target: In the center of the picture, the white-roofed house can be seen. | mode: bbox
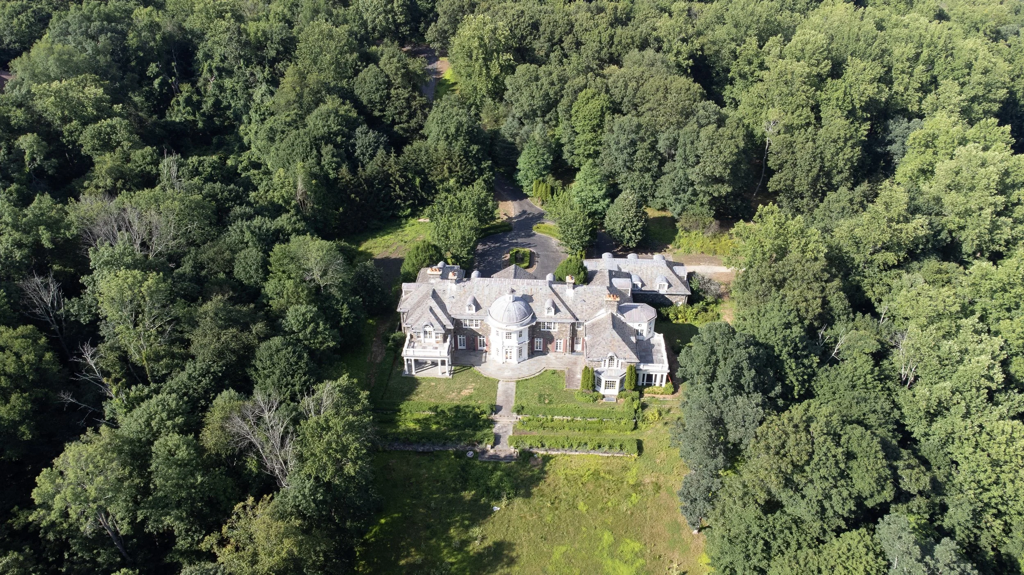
[395,248,692,401]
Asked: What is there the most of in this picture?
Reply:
trees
